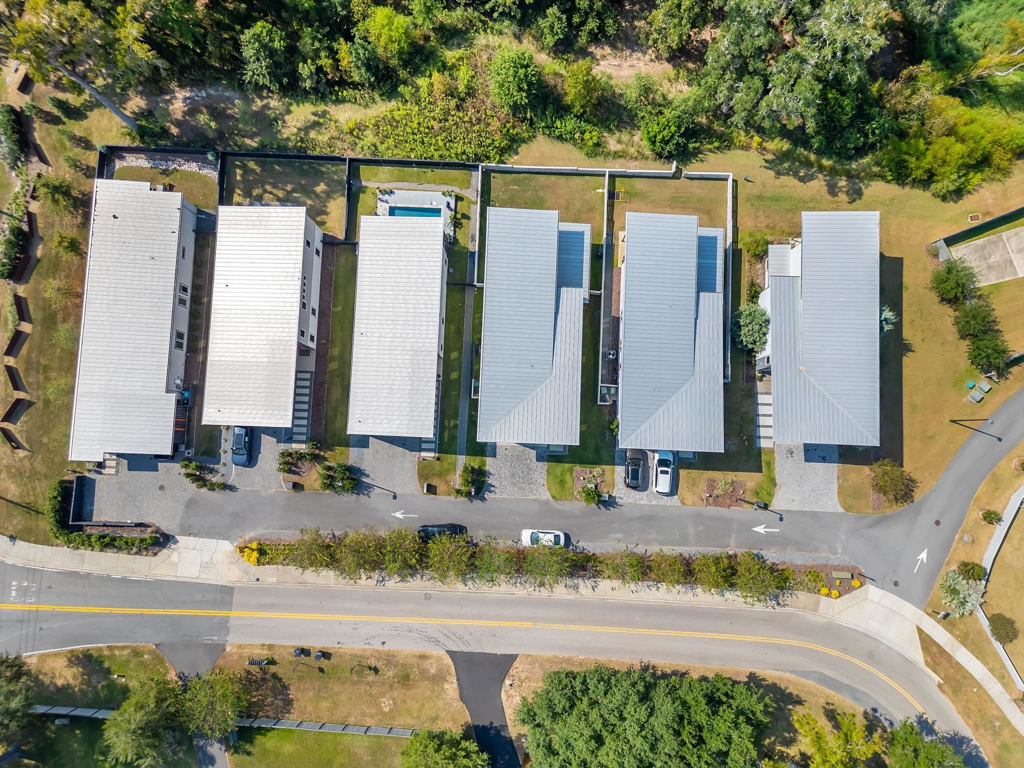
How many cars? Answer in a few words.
5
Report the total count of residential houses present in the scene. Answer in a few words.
6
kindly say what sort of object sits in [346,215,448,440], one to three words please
house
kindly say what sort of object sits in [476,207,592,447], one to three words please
house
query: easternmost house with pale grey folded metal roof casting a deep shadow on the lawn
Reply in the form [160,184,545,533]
[756,210,882,447]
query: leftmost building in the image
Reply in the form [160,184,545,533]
[65,179,196,461]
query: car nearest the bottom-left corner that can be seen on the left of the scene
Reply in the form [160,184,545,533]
[228,427,256,468]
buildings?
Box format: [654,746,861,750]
[65,179,196,461]
[756,210,882,447]
[476,207,592,447]
[346,215,448,440]
[616,212,725,454]
[200,206,323,428]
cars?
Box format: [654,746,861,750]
[650,451,674,495]
[520,526,565,549]
[228,427,256,468]
[417,522,468,545]
[622,450,644,491]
